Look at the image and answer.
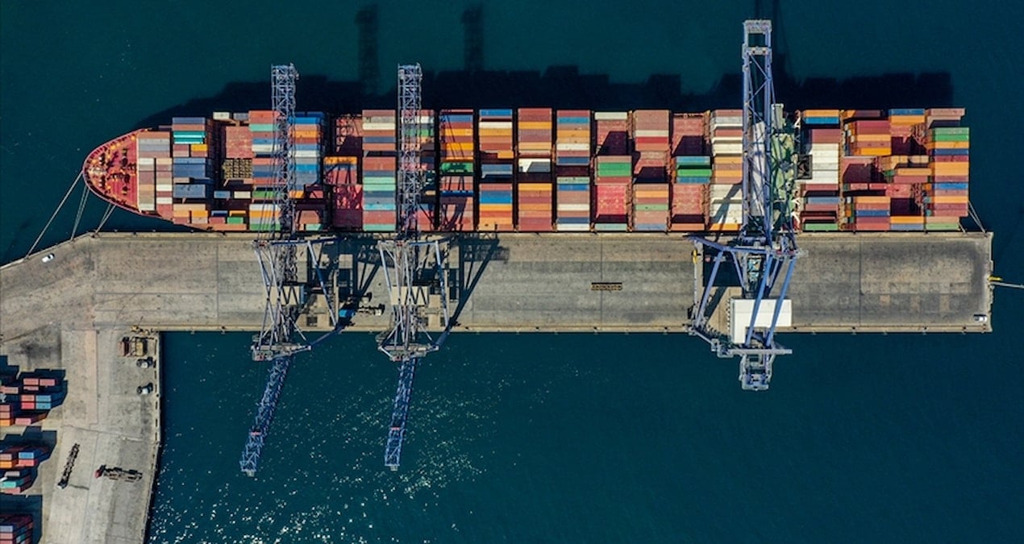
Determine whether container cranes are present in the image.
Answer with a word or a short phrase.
Yes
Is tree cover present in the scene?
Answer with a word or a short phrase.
No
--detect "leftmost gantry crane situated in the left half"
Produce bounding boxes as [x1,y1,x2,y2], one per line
[236,58,348,479]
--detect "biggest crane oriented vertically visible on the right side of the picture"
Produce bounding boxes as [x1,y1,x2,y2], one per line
[682,17,810,392]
